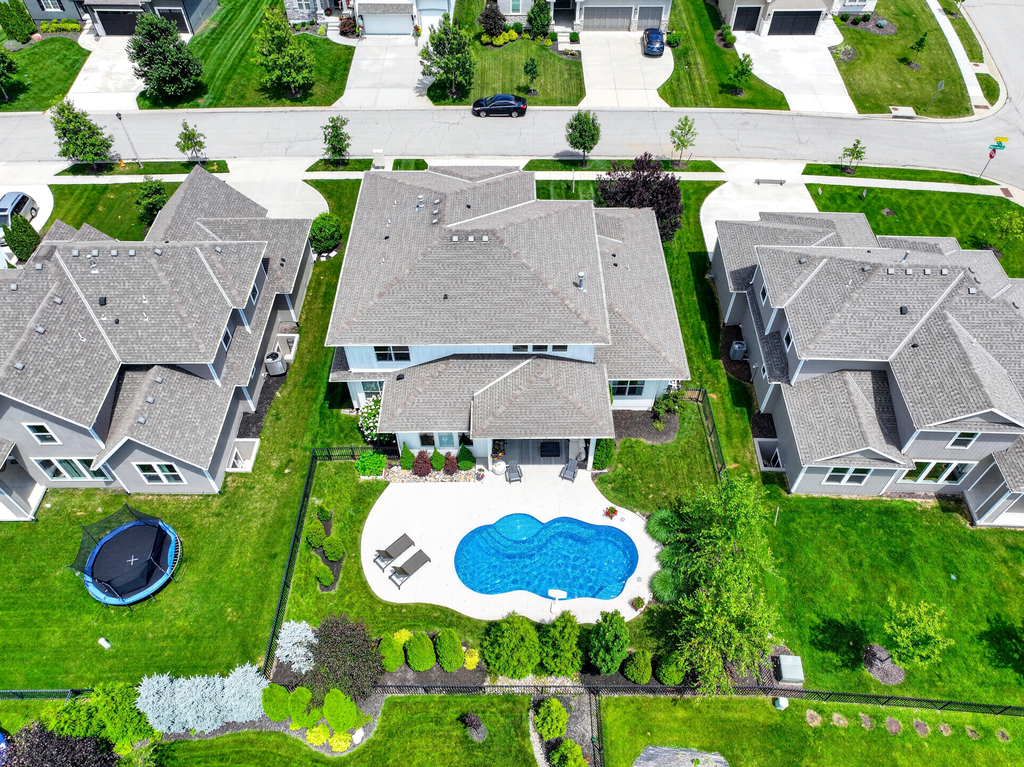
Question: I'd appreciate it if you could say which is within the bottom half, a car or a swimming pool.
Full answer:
You can see a swimming pool within the bottom half.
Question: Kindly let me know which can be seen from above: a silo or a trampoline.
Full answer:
Visible in the photo is a trampoline.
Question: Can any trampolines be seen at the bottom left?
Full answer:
Yes, you'll find a trampoline at the bottom left.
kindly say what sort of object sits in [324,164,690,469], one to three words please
house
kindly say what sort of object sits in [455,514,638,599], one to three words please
swimming pool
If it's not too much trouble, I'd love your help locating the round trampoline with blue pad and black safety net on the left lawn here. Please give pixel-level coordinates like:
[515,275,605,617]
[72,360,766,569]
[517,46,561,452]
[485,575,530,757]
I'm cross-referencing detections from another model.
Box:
[67,508,185,613]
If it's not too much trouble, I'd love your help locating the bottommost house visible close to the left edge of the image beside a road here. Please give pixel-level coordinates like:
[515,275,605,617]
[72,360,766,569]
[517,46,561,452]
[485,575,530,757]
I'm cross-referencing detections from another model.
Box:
[0,164,314,528]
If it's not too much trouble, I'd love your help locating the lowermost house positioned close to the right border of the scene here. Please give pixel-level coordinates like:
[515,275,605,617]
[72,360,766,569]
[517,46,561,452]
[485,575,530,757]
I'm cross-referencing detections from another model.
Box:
[712,212,1024,532]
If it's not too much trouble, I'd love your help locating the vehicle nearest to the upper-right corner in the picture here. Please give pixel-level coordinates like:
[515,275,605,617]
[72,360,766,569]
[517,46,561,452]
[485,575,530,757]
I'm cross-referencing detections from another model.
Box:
[643,27,668,57]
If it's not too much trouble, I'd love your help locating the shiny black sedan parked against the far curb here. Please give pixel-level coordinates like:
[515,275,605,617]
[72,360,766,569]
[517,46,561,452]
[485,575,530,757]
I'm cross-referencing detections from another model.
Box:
[469,91,524,116]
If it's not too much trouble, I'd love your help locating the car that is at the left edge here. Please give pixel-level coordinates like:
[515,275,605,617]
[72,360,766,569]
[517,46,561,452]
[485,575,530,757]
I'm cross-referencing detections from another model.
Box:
[0,188,40,240]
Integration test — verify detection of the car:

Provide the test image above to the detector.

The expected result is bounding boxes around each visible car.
[643,27,668,57]
[469,91,524,116]
[0,188,40,240]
